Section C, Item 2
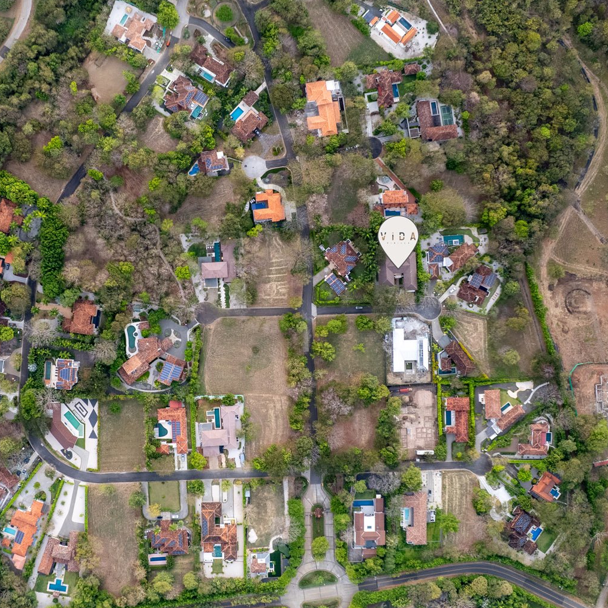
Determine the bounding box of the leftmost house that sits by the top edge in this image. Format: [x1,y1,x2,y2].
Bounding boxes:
[110,12,155,52]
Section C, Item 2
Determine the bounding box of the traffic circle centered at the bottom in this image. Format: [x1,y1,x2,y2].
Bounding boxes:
[282,559,360,608]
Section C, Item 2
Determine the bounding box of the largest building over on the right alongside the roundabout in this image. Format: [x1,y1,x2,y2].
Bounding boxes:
[347,498,385,562]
